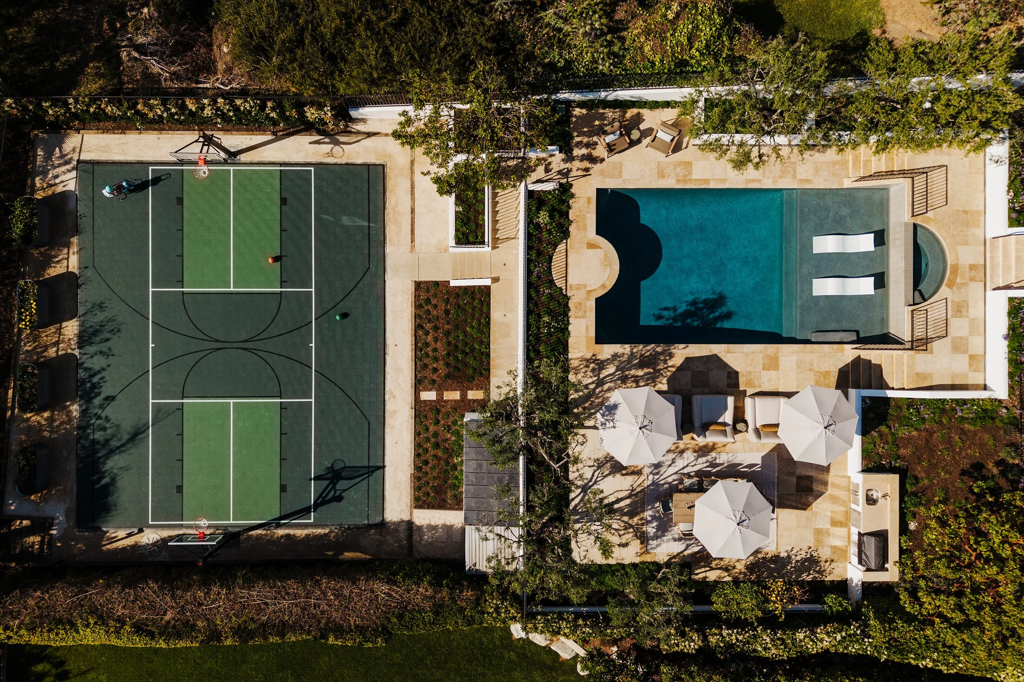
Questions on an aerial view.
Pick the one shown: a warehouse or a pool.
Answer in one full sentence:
Of the two, only a pool appears.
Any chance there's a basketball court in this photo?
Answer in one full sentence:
Yes, the frame does contain a basketball court.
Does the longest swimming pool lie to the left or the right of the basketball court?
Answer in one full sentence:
Looking at the photo, the longest swimming pool lies to the right of the basketball court.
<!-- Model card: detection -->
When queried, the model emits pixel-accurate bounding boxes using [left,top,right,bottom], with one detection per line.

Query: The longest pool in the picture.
[596,188,890,344]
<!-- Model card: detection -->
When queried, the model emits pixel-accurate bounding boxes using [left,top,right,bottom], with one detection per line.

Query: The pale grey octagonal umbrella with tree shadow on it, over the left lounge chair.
[597,386,677,466]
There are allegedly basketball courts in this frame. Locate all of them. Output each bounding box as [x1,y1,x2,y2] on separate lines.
[76,160,386,531]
